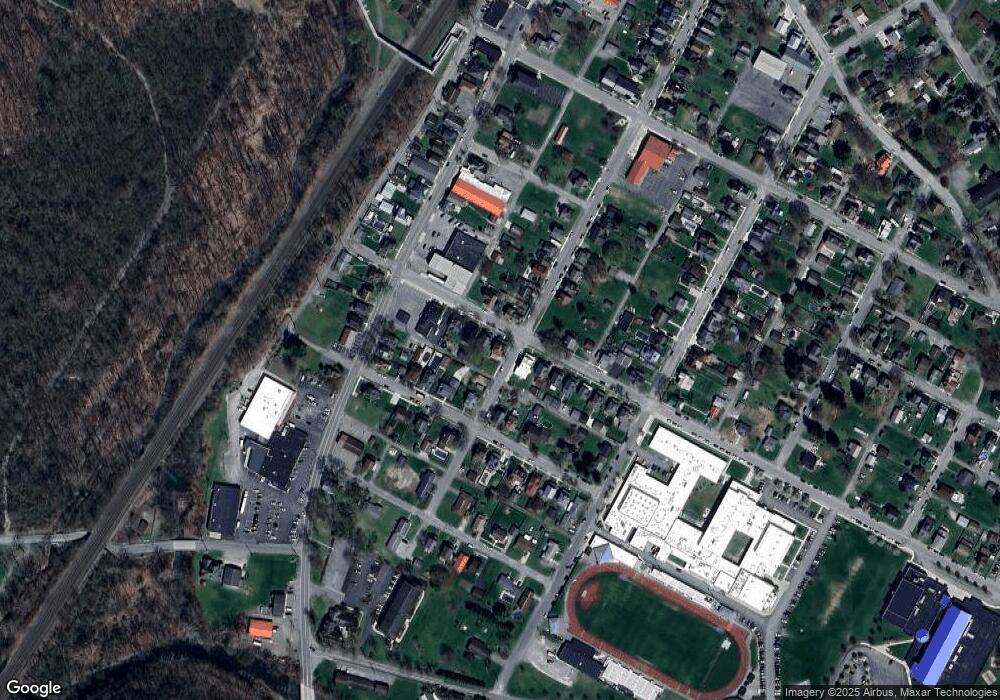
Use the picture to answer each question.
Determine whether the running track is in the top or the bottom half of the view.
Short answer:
bottom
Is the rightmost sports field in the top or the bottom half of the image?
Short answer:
bottom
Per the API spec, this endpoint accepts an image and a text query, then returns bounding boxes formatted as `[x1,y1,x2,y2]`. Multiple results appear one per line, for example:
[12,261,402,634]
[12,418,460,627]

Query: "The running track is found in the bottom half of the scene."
[564,561,748,700]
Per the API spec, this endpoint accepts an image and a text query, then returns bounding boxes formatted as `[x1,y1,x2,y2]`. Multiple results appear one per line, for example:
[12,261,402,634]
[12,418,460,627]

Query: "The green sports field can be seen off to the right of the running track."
[781,522,900,700]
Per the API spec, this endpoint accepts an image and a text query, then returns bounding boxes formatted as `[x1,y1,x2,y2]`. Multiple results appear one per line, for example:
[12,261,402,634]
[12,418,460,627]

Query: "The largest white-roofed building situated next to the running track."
[605,427,797,612]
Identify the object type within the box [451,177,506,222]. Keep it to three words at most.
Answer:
building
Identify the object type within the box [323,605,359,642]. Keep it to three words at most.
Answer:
house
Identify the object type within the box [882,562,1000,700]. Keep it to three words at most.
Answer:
building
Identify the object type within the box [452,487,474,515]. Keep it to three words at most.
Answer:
house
